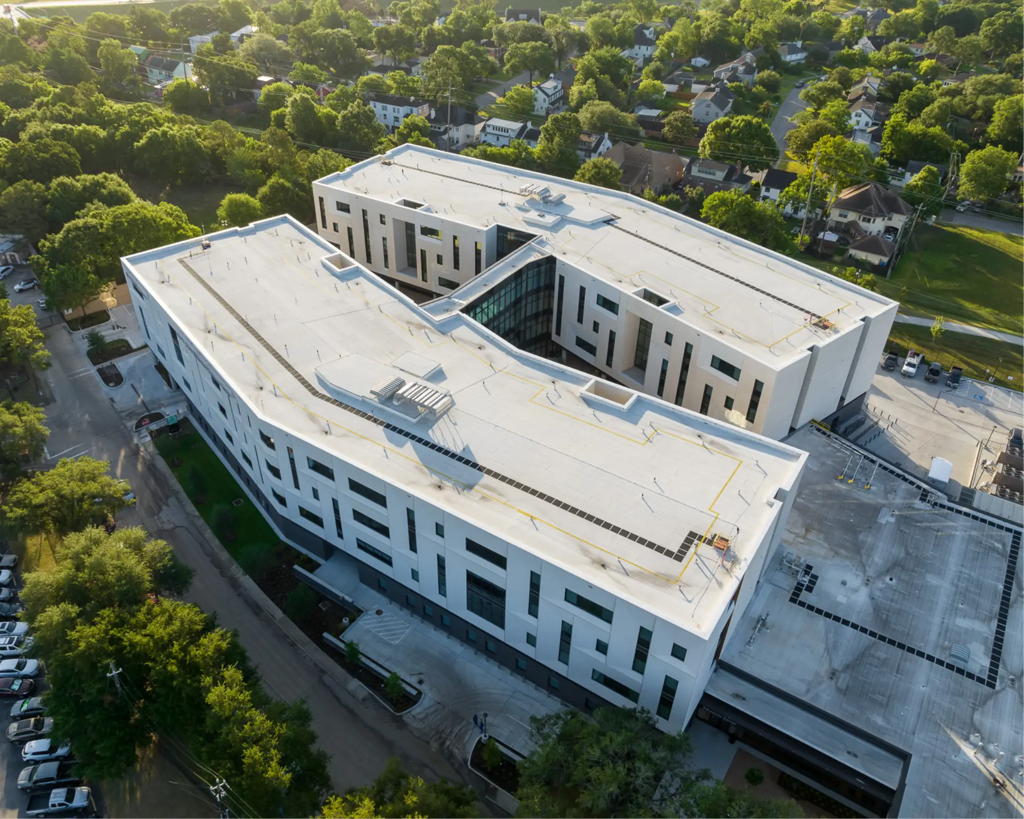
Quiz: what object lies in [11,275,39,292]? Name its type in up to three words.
car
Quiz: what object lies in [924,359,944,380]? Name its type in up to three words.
vehicle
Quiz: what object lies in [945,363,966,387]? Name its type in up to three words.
truck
